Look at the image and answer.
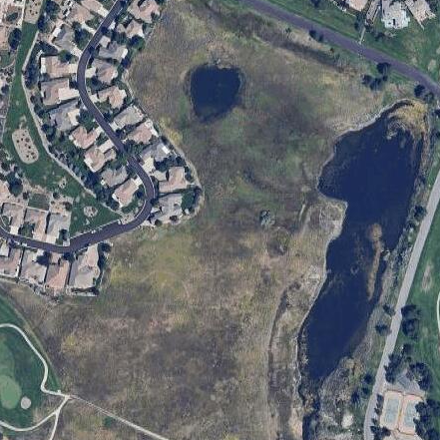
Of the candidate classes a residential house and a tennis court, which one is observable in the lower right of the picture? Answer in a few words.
tennis court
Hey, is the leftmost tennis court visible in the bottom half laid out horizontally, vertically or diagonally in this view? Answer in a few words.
vertically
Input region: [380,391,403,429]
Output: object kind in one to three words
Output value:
tennis court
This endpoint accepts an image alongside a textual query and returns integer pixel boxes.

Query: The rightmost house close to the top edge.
[405,0,436,25]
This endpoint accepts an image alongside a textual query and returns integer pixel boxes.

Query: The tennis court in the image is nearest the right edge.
[399,394,424,434]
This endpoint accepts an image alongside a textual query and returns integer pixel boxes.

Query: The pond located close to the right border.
[295,102,430,398]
